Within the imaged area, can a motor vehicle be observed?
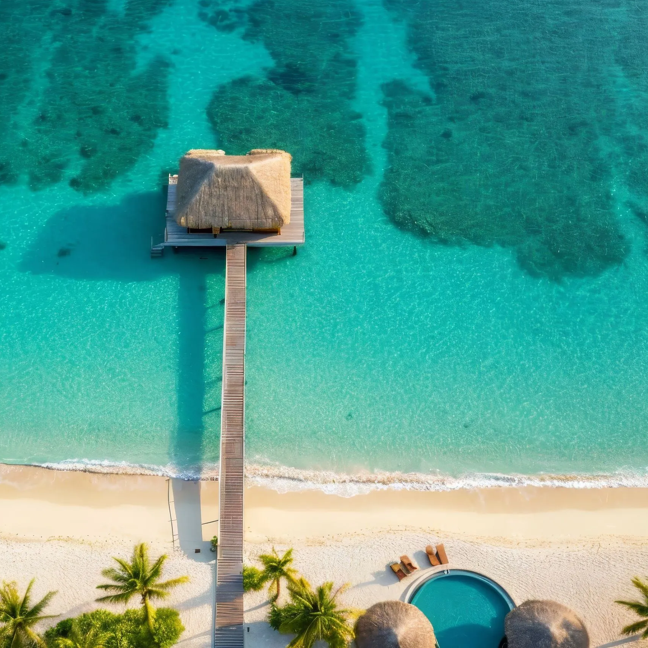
No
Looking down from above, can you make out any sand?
Yes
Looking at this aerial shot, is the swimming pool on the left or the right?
right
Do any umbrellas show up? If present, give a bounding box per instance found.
[501,601,592,648]
[352,603,438,648]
